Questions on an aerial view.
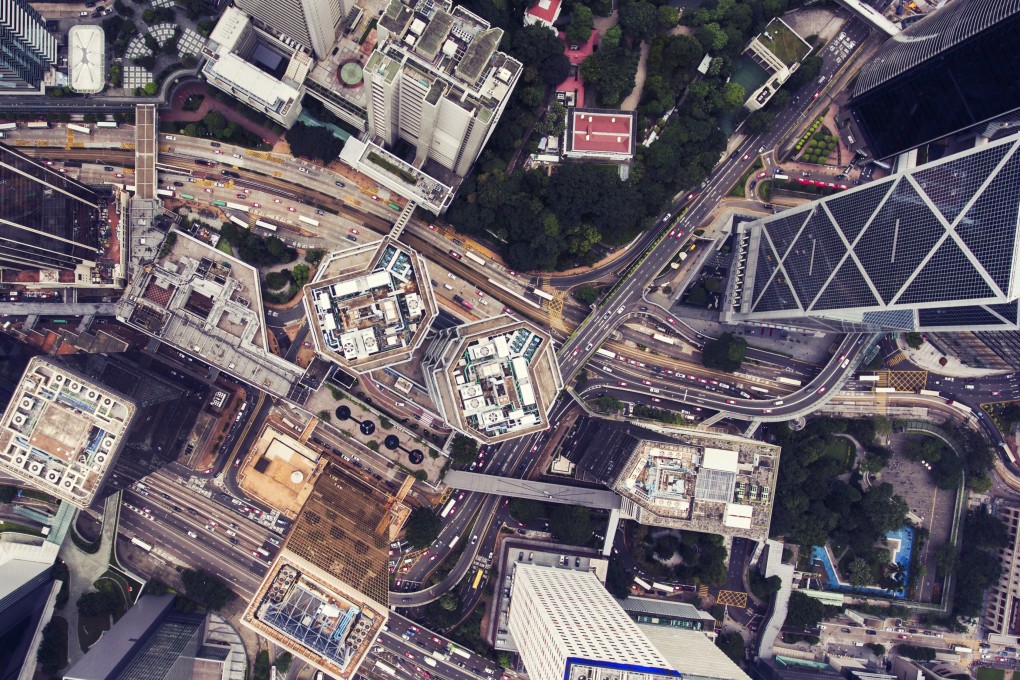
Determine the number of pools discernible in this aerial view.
1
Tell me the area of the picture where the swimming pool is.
bottom right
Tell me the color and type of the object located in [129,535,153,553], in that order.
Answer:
white vehicle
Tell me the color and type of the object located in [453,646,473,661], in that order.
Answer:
white vehicle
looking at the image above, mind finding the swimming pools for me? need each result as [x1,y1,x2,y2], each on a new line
[810,528,916,599]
